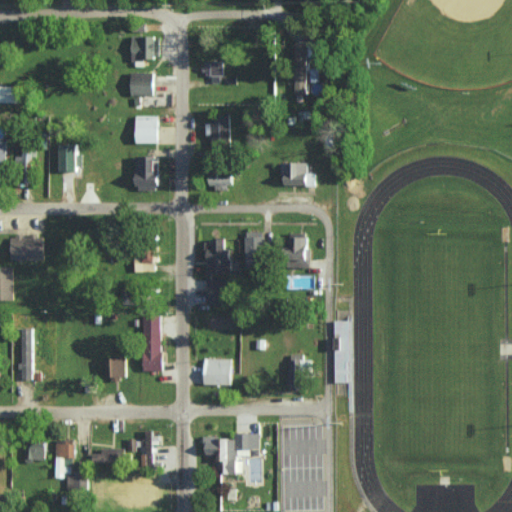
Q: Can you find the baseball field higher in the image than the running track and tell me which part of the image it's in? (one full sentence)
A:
You can find the baseball field higher in the image than the running track in the top right area of the picture.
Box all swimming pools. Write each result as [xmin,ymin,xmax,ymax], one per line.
[246,456,264,488]
[286,276,316,290]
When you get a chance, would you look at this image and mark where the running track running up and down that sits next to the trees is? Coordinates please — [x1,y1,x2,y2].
[354,157,512,512]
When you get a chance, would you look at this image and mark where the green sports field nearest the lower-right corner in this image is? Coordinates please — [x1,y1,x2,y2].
[374,176,512,510]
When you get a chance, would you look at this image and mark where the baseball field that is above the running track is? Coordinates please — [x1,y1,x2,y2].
[376,0,512,90]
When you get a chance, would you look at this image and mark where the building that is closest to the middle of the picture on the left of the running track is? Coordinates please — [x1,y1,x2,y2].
[245,232,269,258]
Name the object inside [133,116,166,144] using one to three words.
house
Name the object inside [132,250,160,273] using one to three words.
house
